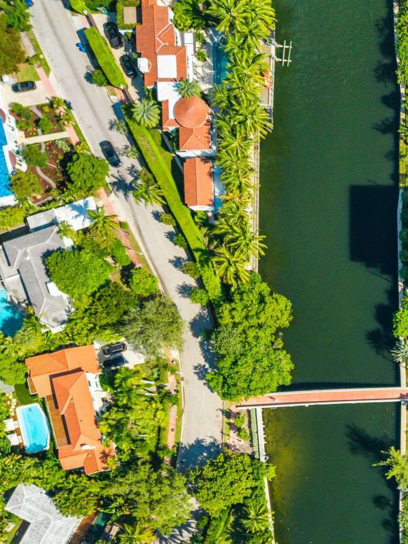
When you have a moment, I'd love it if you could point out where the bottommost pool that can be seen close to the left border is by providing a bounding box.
[14,400,52,453]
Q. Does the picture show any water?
Yes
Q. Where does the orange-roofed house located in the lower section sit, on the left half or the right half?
left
